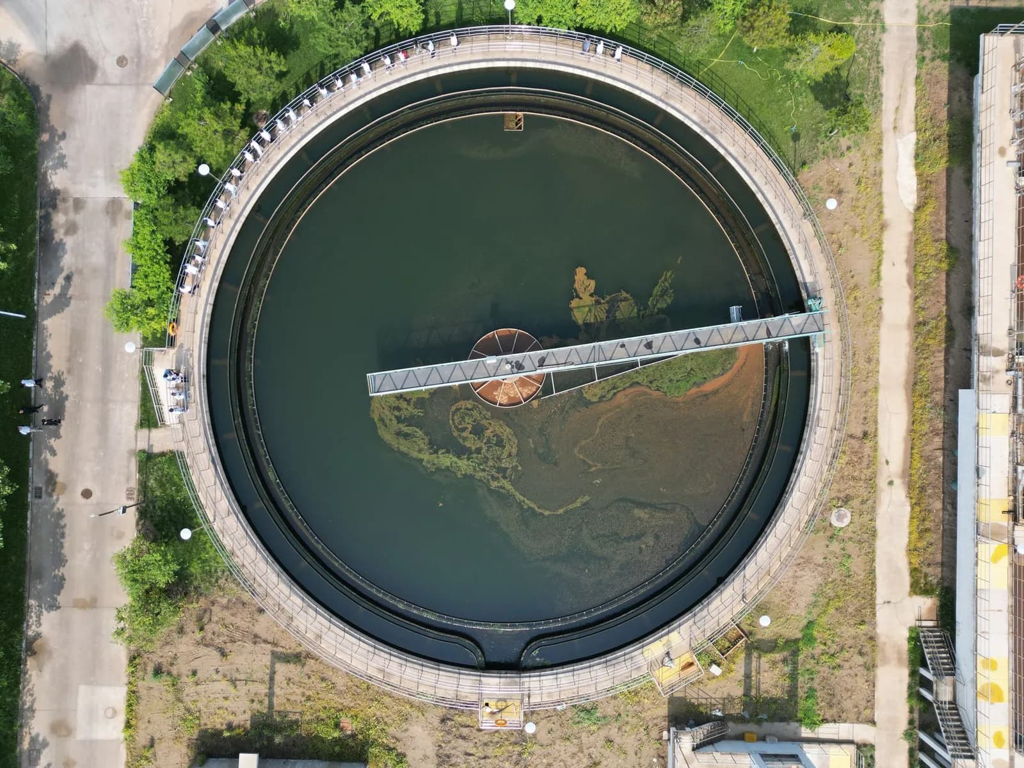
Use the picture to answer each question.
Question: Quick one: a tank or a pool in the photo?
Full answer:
Of the two, only a tank appears.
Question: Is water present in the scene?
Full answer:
Yes, the picture does contain water.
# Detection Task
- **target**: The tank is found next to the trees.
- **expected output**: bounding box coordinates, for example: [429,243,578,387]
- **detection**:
[152,33,841,719]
